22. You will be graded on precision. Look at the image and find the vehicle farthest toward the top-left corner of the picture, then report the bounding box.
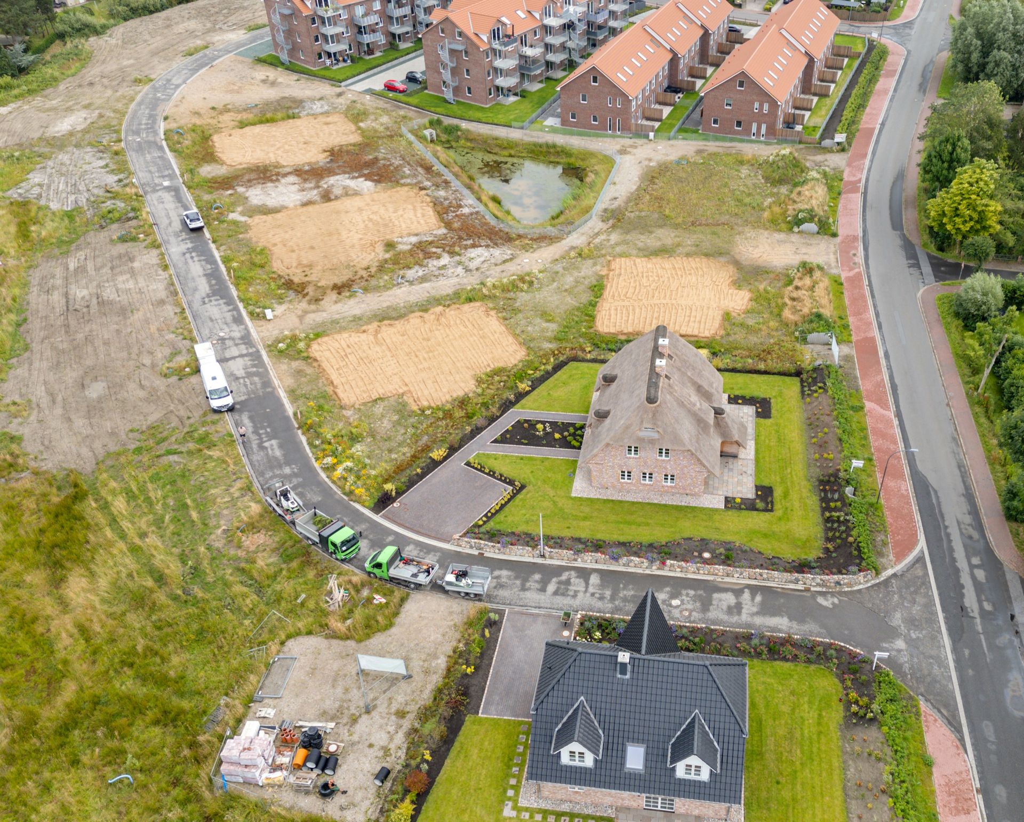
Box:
[181,211,205,233]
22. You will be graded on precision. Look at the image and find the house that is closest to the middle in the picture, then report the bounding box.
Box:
[577,322,746,494]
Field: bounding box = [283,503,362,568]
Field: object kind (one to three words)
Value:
truck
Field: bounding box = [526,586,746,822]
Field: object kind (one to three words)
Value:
house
